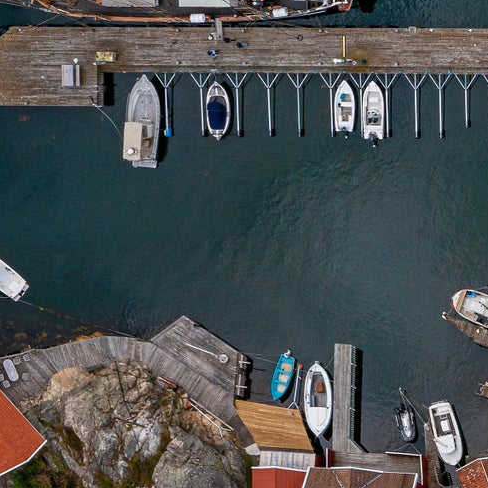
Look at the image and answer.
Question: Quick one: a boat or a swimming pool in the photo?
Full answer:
There is a boat in the scene.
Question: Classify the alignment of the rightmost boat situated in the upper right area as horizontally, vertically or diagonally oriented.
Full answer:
In this picture, the rightmost boat situated in the upper right area is oriented vertically.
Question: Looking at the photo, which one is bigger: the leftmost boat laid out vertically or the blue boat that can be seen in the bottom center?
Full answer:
Compared with the blue boat that can be seen in the bottom center, the leftmost boat laid out vertically is the larger one.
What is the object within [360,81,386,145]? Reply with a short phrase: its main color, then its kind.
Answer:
white boat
